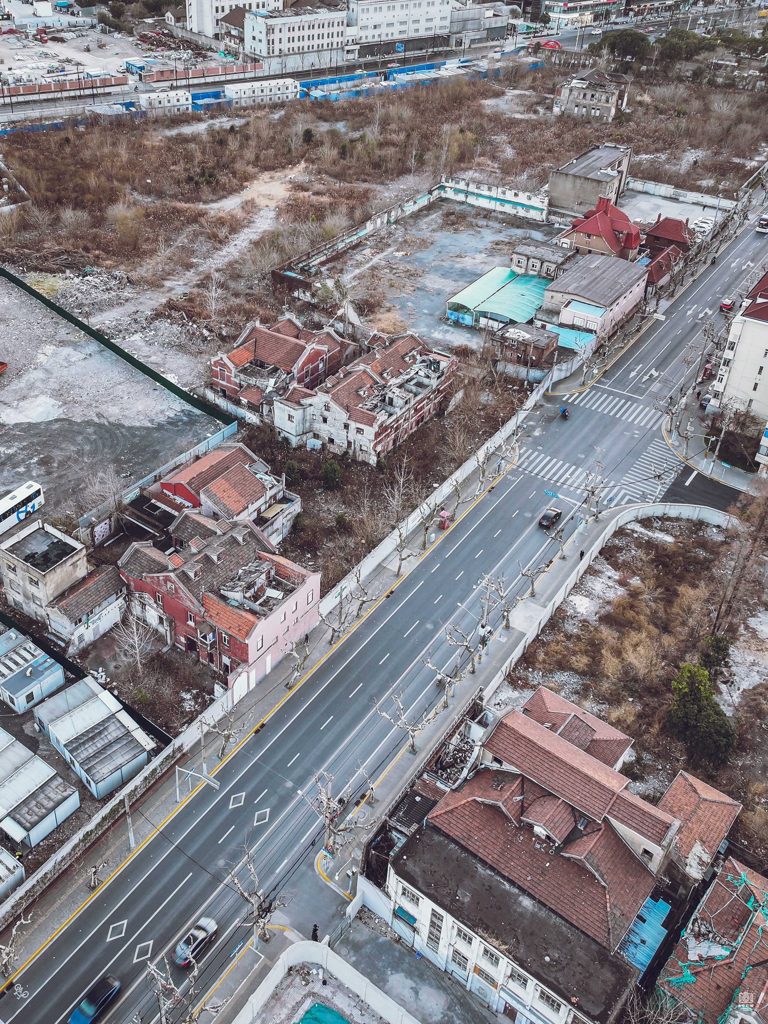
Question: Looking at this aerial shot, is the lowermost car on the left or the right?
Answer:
left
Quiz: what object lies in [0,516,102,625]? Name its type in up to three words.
house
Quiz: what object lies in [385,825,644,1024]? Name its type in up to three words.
building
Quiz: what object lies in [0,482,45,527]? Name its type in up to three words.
bus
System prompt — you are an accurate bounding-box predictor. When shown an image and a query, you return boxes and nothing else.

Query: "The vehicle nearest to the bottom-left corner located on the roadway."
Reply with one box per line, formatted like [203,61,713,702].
[69,973,118,1024]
